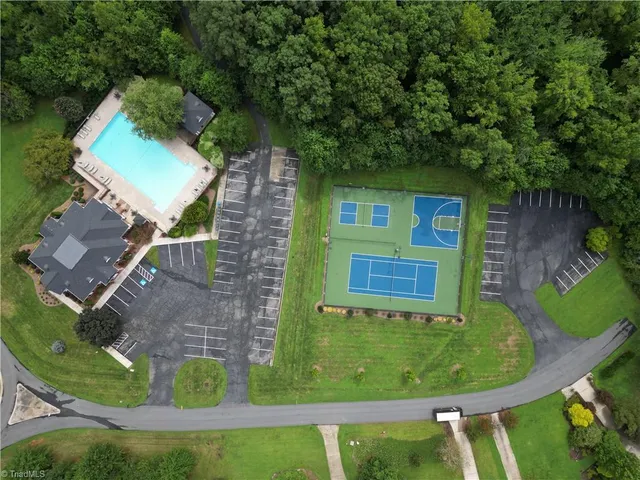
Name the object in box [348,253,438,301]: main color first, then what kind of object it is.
blue tennis court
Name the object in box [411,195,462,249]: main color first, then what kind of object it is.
blue basketball court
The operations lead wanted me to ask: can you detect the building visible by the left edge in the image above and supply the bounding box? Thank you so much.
[28,197,135,303]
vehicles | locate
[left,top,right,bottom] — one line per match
[434,408,462,422]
